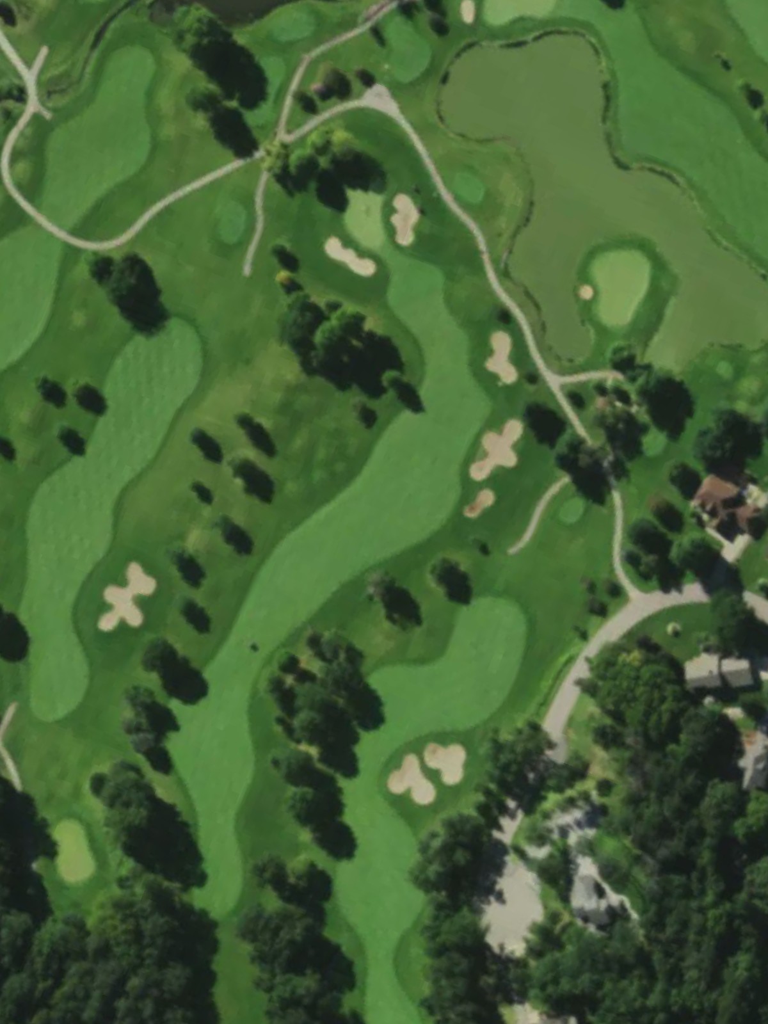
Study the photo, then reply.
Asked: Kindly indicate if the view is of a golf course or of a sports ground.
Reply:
golf course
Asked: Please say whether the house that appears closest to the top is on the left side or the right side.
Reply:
right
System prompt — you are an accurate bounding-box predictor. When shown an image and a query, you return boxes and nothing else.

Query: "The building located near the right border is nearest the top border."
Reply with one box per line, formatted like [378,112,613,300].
[693,473,752,535]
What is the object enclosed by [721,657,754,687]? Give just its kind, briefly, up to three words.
building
